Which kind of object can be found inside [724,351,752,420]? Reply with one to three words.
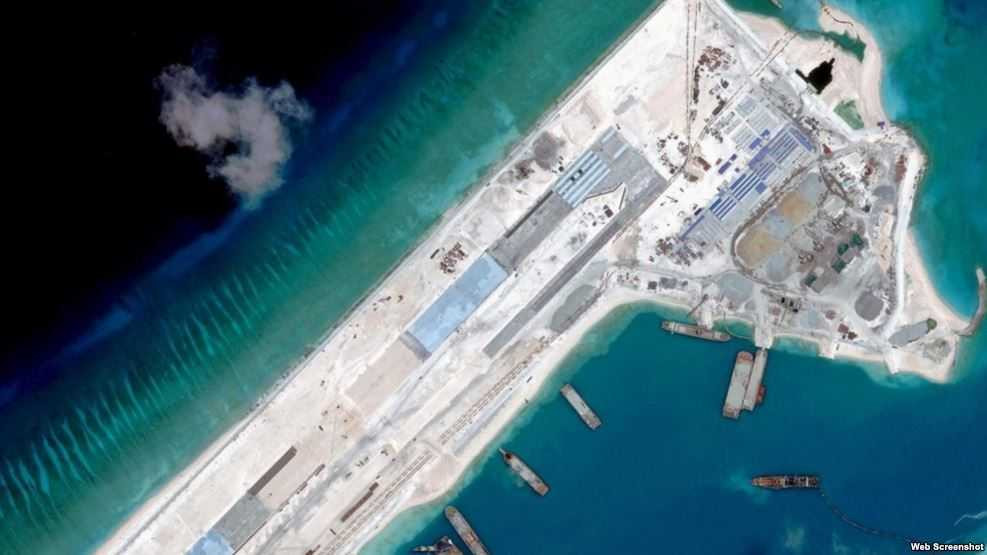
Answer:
ship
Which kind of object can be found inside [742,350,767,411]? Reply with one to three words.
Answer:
ship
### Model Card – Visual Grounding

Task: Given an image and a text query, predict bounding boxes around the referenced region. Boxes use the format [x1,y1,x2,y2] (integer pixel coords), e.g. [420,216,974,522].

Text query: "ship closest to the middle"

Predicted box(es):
[560,384,601,429]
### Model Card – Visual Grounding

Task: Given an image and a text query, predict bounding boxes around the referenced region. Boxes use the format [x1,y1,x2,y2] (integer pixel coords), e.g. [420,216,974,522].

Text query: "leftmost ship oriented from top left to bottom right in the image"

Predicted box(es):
[447,507,488,555]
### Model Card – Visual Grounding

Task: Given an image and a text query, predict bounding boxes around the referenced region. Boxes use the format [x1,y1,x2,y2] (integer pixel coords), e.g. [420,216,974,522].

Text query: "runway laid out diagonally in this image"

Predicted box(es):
[183,149,617,555]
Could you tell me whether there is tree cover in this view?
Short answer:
No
